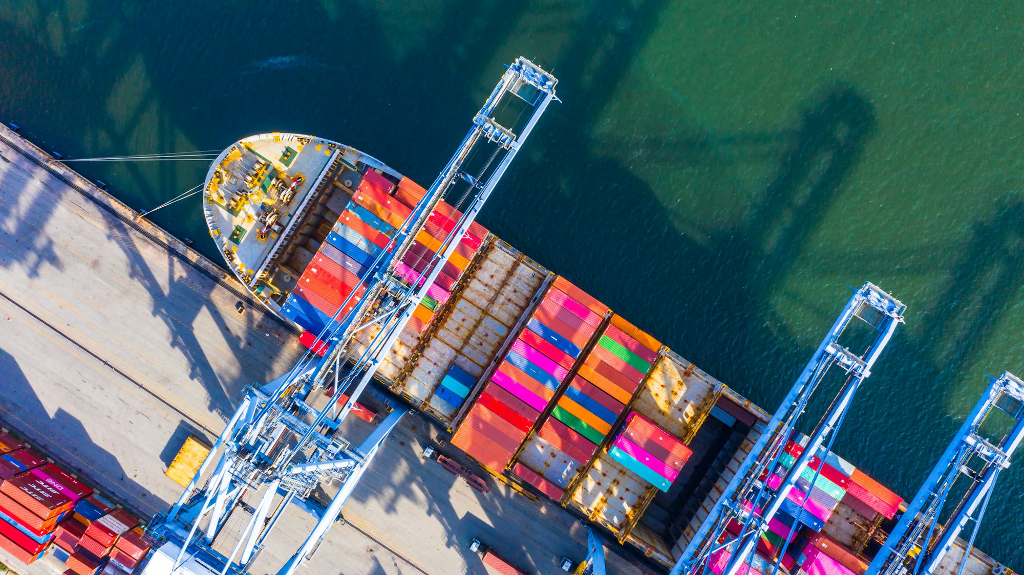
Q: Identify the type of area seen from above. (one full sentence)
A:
This image shows a port.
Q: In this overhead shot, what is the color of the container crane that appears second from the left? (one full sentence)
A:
From above, the container crane that appears second from the left appears blue.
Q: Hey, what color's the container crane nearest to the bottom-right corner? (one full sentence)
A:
In this view, the container crane nearest to the bottom-right corner is blue.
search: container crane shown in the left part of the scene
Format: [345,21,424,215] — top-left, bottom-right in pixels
[121,46,565,575]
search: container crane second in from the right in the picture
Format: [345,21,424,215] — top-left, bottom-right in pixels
[564,278,916,575]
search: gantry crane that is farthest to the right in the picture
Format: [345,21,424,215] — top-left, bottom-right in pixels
[866,370,1024,575]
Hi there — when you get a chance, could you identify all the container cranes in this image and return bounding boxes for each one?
[121,46,565,575]
[564,278,916,575]
[866,370,1024,575]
